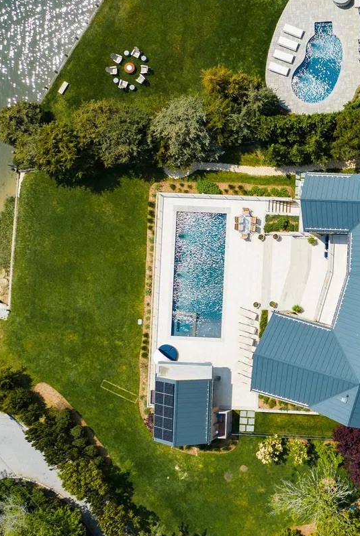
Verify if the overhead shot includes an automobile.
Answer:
No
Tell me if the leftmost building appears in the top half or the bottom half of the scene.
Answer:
bottom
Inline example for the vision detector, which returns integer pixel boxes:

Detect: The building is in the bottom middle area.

[152,360,220,447]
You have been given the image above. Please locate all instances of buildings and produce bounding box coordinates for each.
[251,170,360,428]
[152,360,220,447]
